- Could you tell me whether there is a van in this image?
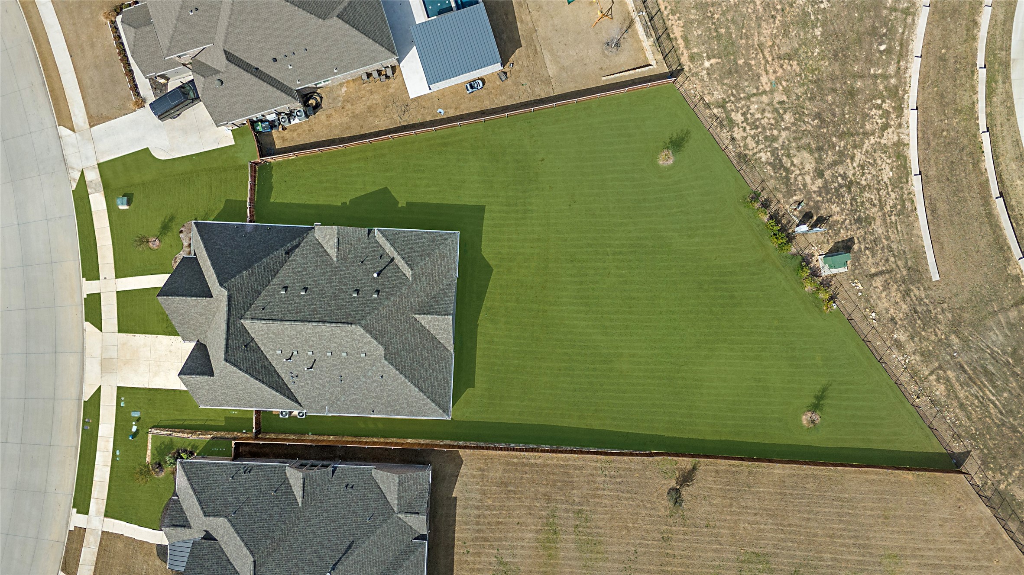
Yes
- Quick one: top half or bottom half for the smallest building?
top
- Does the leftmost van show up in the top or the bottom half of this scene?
top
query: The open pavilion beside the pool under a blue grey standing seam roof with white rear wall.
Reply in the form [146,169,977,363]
[410,2,502,88]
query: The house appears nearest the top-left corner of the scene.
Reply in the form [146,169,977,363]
[120,0,399,130]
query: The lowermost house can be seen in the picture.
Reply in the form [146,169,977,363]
[161,455,434,575]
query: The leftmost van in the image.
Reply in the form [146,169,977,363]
[149,80,205,123]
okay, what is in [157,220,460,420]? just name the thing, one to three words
house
